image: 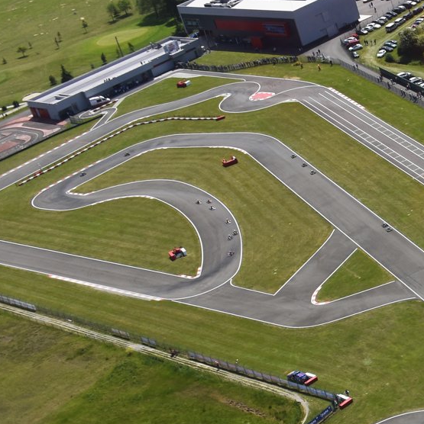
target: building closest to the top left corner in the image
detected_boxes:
[26,36,198,119]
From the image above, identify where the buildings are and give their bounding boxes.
[26,36,198,119]
[177,0,354,45]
